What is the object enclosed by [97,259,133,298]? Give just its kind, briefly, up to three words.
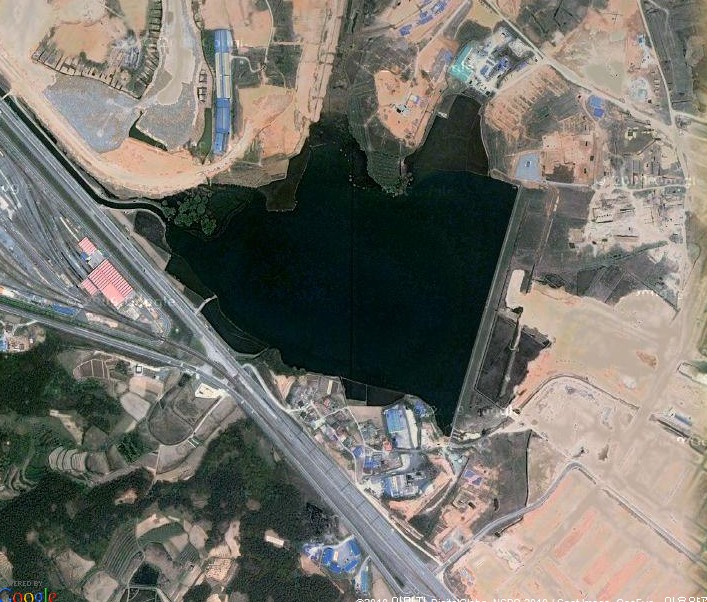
building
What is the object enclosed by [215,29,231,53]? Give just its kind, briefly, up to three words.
building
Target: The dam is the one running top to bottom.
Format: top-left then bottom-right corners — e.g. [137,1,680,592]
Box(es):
[450,184,531,439]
